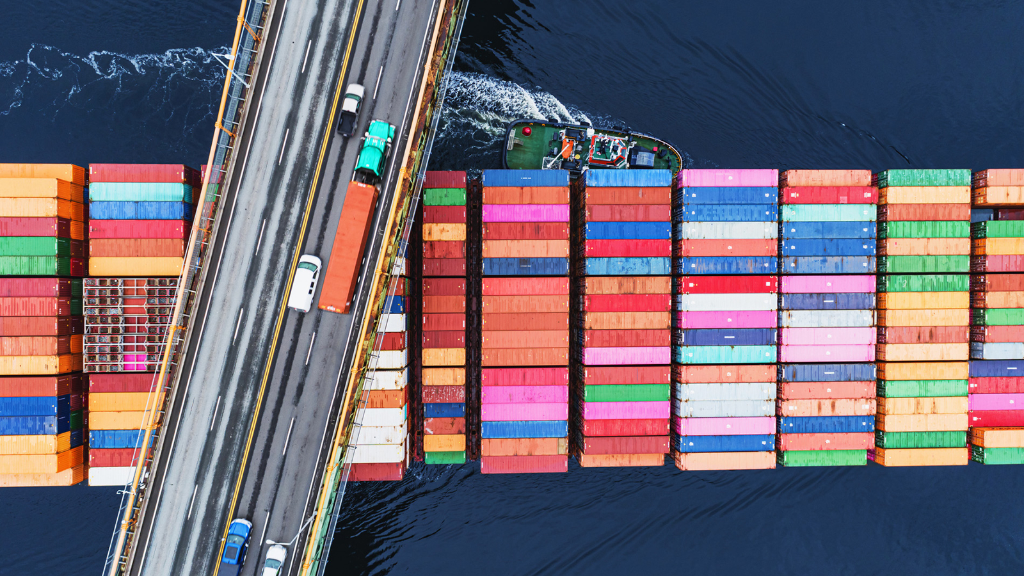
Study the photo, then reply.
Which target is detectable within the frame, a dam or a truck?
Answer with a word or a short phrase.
truck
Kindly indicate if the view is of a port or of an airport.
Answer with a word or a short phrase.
port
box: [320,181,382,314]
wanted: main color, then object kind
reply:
red shipping container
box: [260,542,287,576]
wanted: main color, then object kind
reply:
white car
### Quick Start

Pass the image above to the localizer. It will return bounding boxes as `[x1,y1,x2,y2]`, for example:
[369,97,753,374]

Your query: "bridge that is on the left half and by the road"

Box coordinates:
[100,0,473,576]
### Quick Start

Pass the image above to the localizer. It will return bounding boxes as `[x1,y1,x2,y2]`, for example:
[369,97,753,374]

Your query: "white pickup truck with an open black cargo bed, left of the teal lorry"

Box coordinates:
[335,82,363,142]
